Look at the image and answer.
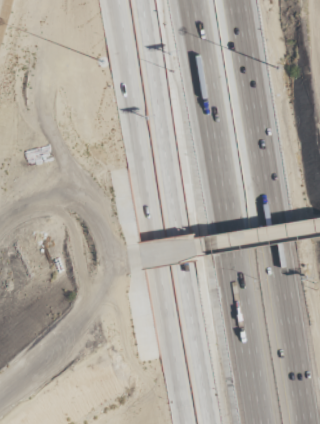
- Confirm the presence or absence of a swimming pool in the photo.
No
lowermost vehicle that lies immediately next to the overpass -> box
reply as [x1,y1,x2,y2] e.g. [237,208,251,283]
[232,282,246,342]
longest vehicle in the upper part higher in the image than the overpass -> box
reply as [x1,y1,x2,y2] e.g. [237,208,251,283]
[195,54,210,113]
